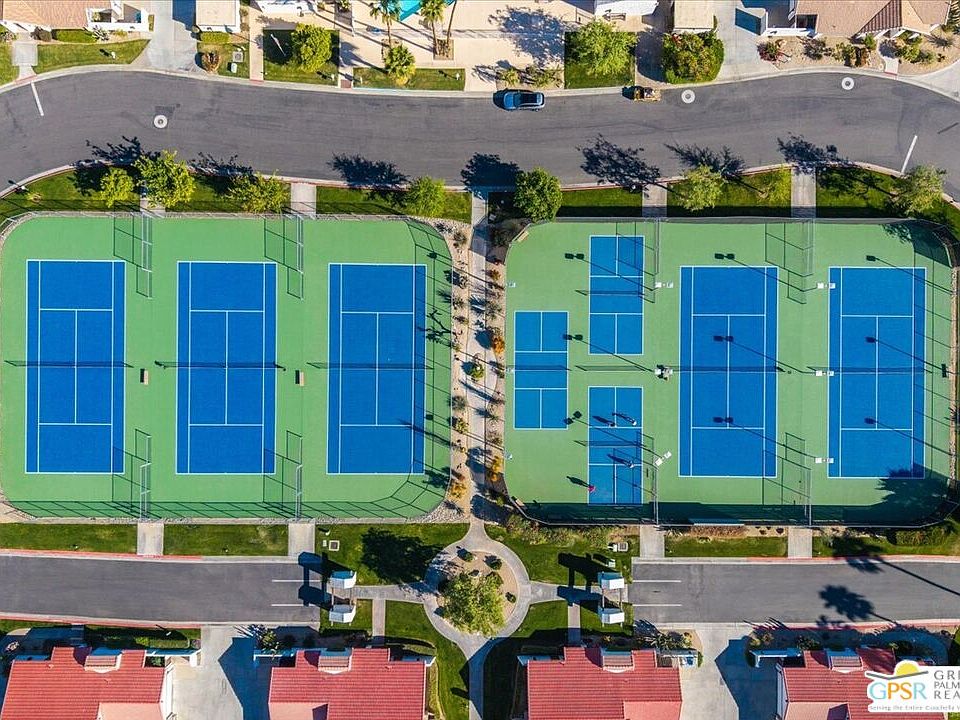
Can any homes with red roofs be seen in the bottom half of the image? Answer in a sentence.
Yes, a home with a red roof is visible in the bottom half of the image.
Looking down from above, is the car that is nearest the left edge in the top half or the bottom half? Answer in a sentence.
Seen from above, the car that is nearest the left edge lies in the top half of the view.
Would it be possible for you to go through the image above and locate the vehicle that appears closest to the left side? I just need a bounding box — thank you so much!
[502,91,547,112]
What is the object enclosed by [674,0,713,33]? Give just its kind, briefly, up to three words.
building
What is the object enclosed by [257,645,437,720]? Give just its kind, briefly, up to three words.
house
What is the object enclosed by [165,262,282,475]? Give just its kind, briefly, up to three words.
tennis court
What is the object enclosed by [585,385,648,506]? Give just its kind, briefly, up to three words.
sports court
